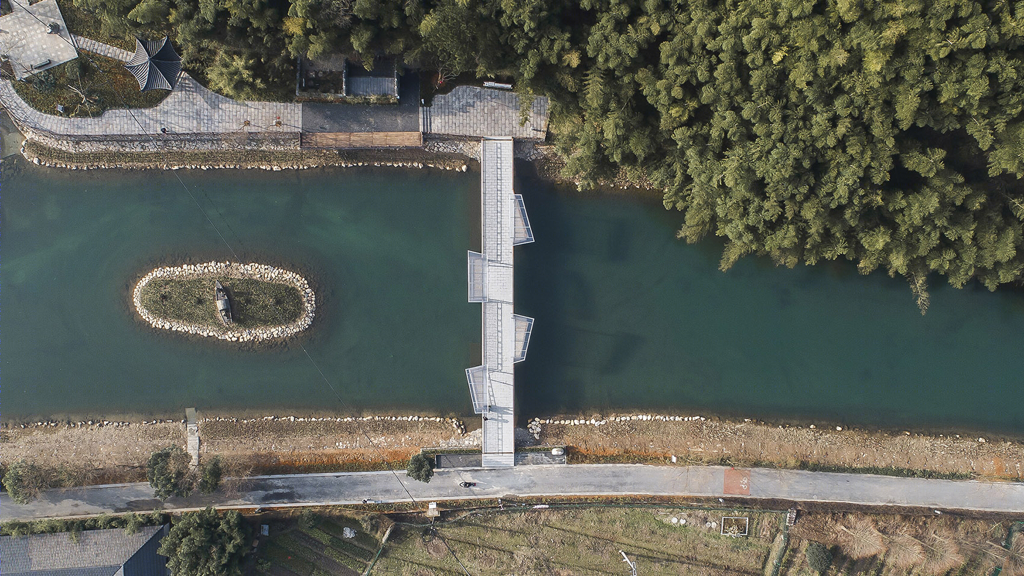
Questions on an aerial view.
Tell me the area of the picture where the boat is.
left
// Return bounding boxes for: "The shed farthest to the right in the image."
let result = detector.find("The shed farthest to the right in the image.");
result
[344,53,399,100]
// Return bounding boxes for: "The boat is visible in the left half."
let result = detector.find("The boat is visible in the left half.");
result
[213,280,233,328]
